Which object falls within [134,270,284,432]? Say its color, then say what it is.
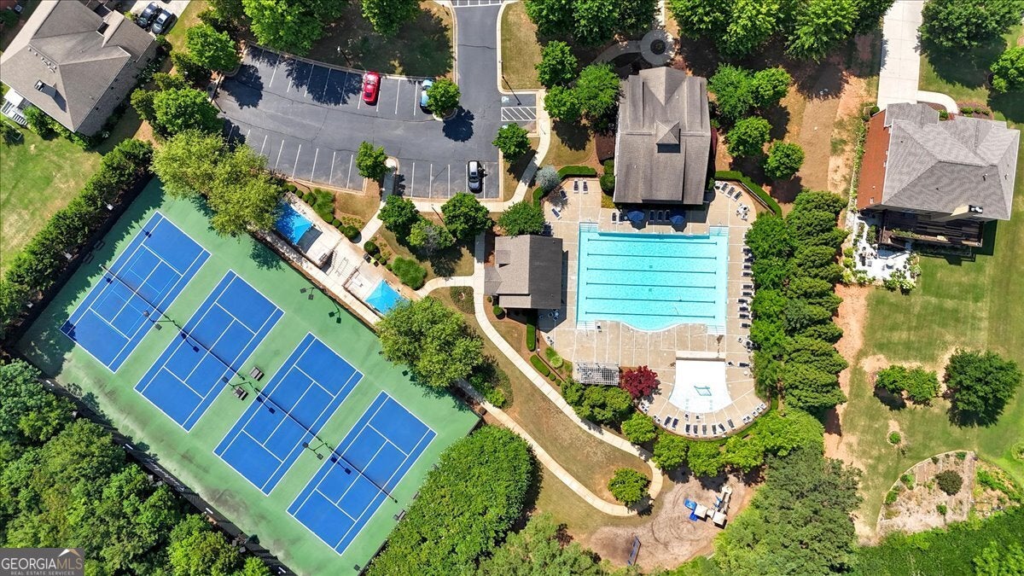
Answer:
blue tennis court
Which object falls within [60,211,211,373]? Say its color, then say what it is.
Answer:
blue tennis court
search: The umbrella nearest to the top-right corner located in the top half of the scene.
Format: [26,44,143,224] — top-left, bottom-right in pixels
[667,211,685,229]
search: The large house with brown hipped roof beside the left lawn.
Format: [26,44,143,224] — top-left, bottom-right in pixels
[0,0,164,133]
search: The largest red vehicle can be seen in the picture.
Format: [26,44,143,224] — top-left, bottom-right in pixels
[364,71,379,102]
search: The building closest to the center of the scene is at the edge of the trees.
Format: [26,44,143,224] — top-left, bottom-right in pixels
[485,235,563,308]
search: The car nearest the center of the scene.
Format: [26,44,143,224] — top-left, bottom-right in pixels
[468,160,481,192]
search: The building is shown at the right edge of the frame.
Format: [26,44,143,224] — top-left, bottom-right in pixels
[859,103,1020,251]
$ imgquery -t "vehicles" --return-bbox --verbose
[149,4,172,36]
[418,78,432,108]
[468,160,481,192]
[132,0,157,28]
[364,71,379,102]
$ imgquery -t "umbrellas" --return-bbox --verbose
[667,211,685,229]
[626,206,645,225]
